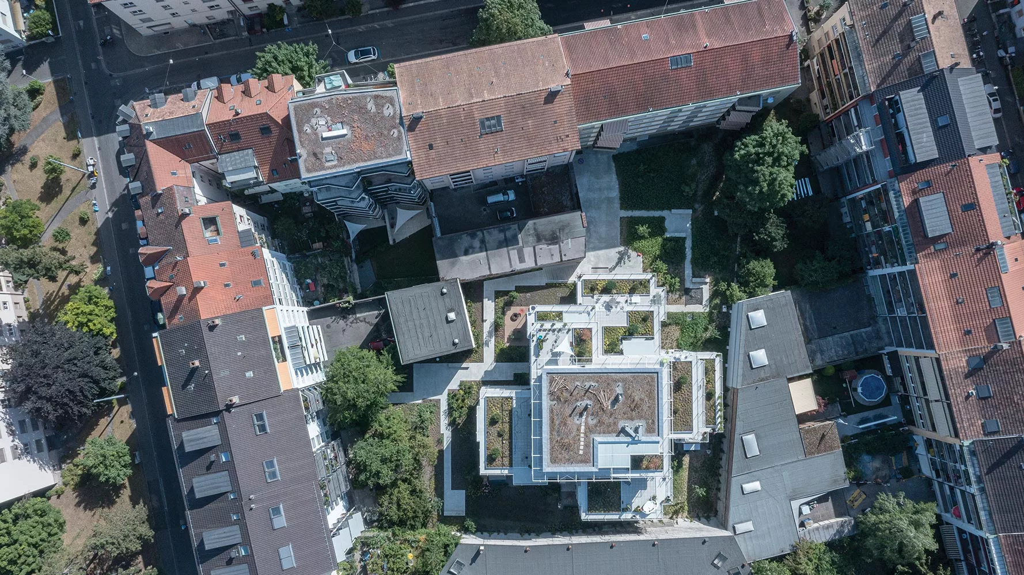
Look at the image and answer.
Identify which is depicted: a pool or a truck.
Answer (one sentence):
I can see a pool in this picture.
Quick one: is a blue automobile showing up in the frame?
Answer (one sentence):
Yes, a blue automobile can be made out from above.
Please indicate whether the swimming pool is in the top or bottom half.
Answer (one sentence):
The bottom half of the photo is where the swimming pool is.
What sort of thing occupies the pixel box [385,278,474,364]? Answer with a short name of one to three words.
building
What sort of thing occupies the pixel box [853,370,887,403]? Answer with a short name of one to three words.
swimming pool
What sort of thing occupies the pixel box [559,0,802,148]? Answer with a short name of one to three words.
house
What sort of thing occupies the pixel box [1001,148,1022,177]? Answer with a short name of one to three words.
car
